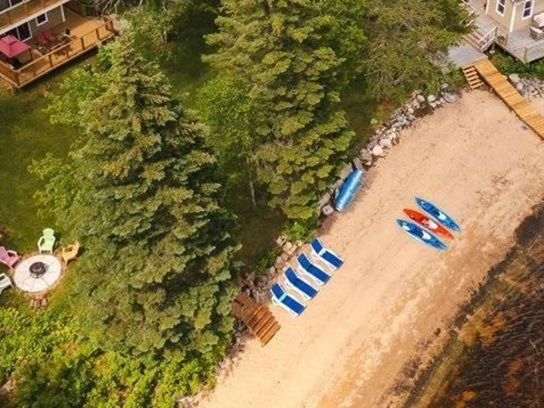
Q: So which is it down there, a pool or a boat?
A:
boat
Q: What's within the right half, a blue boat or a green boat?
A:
blue boat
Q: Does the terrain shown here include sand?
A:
Yes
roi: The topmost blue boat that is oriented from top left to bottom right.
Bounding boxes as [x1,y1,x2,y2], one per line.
[415,197,461,232]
